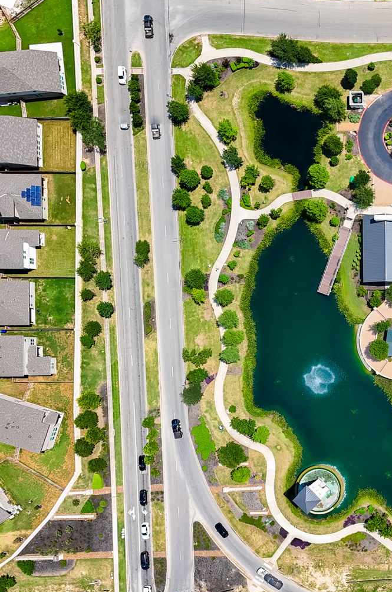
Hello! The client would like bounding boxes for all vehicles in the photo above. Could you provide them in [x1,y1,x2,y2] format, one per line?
[138,488,148,505]
[144,584,152,592]
[117,66,127,85]
[144,15,153,37]
[254,564,265,575]
[214,521,230,538]
[264,573,283,589]
[140,521,150,538]
[120,121,129,132]
[140,551,150,569]
[137,454,147,471]
[151,122,160,140]
[171,418,182,439]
